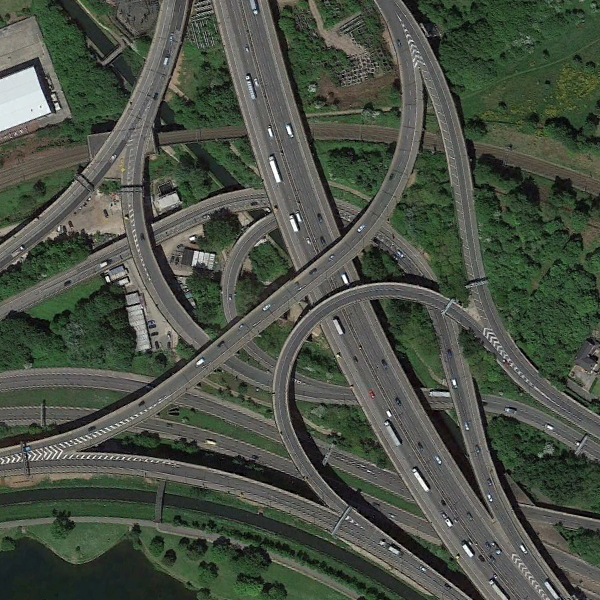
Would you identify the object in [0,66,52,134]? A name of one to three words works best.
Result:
building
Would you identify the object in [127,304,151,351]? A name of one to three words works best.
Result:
shed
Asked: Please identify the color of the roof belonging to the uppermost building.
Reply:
white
